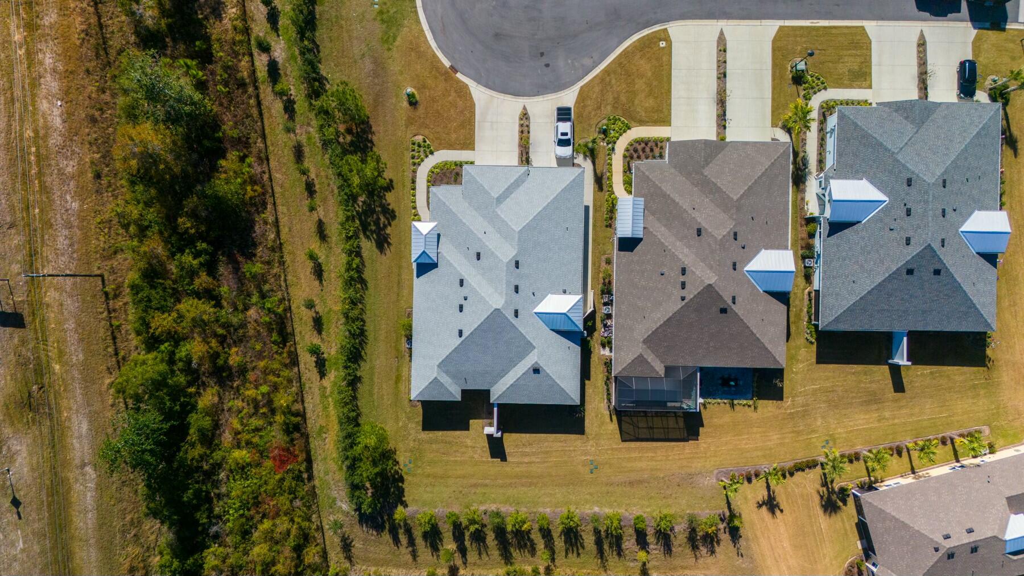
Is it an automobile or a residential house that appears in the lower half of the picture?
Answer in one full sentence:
There is a residential house in the lower half of the picture.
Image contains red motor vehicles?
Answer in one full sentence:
No, there isn't any red motor vehicle down there.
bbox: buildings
[851,439,1024,576]
[410,163,585,407]
[811,99,1013,333]
[612,138,796,378]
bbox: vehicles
[553,106,575,160]
[954,59,978,101]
